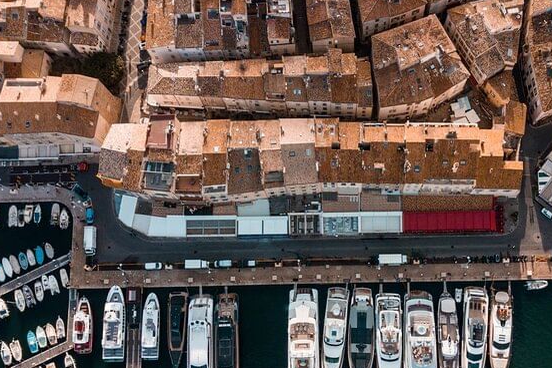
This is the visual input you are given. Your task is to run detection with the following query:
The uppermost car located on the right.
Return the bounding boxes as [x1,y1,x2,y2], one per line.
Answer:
[538,205,552,219]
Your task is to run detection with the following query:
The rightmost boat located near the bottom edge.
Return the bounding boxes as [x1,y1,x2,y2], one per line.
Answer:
[488,272,514,368]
